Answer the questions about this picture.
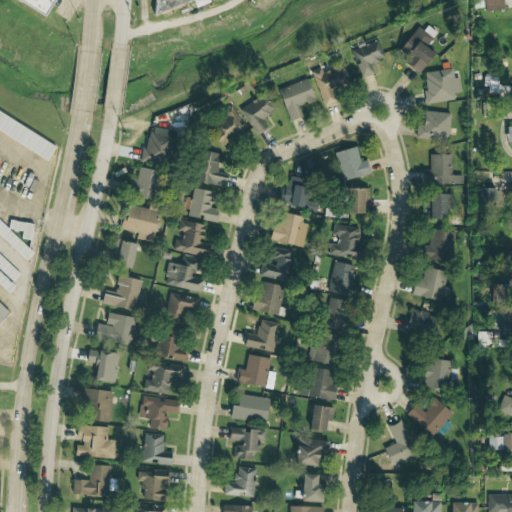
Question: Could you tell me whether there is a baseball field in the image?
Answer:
No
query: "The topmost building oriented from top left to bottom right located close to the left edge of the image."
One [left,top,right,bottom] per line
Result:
[0,111,56,160]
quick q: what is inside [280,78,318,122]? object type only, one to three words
house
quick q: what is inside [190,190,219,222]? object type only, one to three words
house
